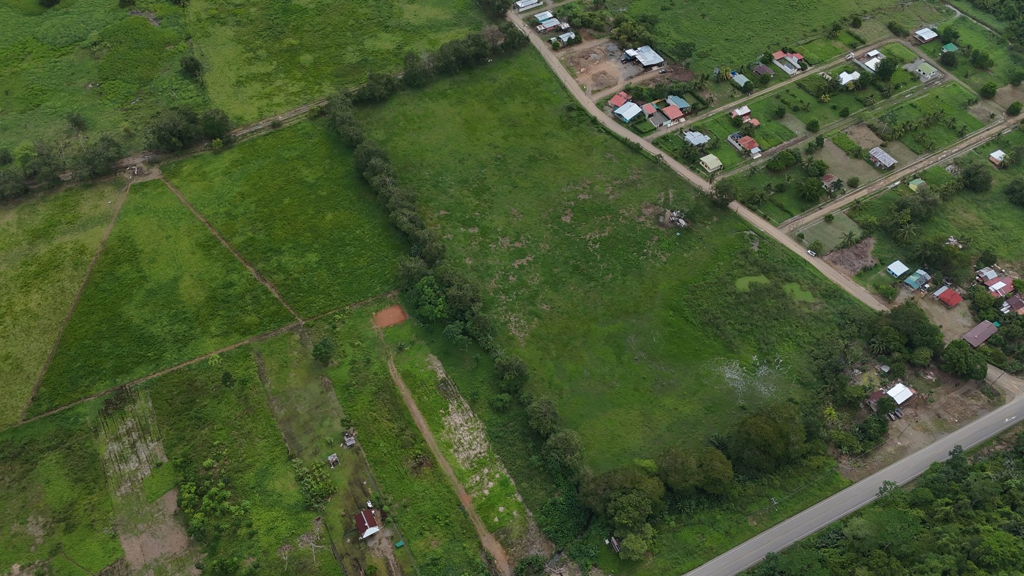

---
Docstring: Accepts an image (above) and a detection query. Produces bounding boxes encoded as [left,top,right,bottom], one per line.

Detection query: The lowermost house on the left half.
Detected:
[355,510,379,538]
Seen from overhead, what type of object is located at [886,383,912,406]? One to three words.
house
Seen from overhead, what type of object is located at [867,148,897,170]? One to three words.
barn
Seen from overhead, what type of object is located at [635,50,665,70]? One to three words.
building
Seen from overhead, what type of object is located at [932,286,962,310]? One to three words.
house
